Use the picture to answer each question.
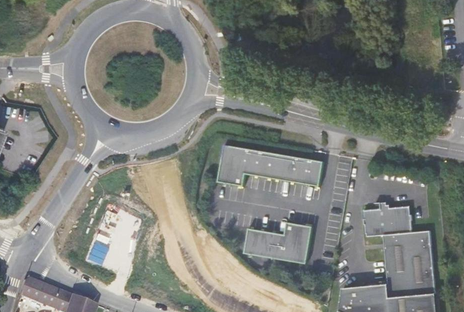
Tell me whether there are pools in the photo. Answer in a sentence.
No, the scene contains no pool.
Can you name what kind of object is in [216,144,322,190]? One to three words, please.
building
